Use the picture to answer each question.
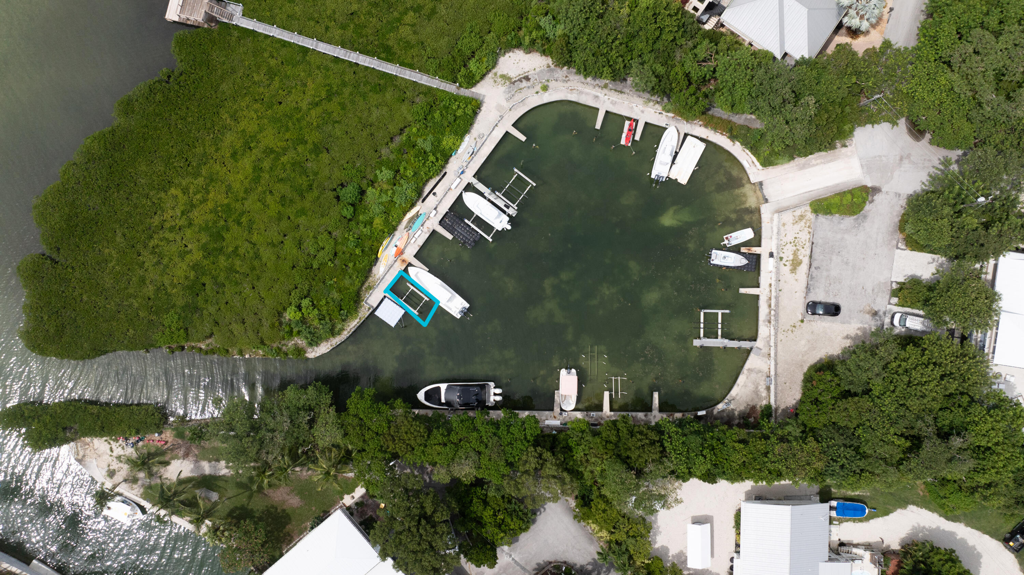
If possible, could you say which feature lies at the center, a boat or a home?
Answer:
boat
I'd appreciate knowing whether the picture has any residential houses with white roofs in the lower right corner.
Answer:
Yes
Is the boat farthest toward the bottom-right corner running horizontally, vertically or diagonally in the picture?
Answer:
horizontally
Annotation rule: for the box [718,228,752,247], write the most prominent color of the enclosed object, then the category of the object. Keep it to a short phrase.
white boat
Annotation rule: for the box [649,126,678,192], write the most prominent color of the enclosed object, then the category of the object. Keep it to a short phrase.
white boat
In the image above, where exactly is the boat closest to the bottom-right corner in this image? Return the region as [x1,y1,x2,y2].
[829,498,875,519]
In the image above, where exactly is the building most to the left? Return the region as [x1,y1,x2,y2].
[260,505,402,575]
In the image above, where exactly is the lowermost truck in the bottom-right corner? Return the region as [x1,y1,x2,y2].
[1001,511,1024,555]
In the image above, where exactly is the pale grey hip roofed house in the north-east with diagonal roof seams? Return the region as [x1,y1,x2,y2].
[718,0,849,69]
